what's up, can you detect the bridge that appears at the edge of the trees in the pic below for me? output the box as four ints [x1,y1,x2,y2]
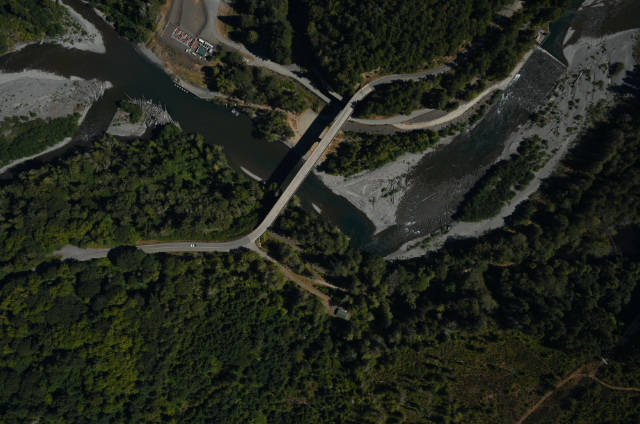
[249,83,372,243]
